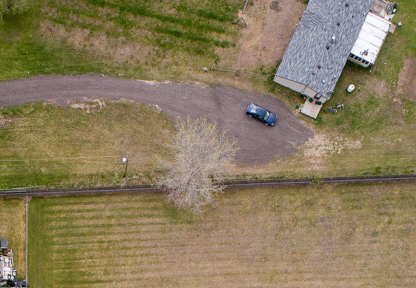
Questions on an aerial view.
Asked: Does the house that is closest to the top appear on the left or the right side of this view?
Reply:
right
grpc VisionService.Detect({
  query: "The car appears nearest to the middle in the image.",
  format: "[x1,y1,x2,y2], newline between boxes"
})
[246,99,280,125]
